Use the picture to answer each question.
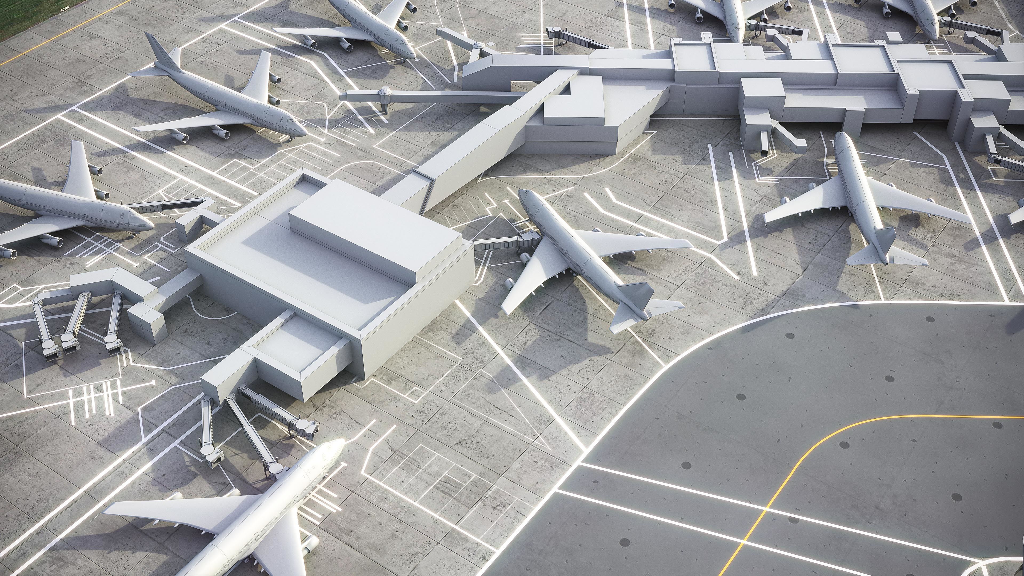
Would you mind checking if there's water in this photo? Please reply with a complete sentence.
No, water can't be seen anywhere here.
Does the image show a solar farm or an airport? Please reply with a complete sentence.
This image shows an airport.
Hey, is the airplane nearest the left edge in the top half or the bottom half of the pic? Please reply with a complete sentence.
It is in the top half that the airplane nearest the left edge appears.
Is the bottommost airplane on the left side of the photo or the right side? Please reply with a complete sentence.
It is on the left.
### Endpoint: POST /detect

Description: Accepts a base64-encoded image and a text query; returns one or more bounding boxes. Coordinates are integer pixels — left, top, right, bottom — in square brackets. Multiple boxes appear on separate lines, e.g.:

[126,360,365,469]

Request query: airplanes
[668,0,792,44]
[268,0,417,61]
[90,440,346,576]
[1008,198,1024,230]
[879,0,959,42]
[764,130,977,265]
[0,138,155,259]
[502,187,702,334]
[125,32,308,142]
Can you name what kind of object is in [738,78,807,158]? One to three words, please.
building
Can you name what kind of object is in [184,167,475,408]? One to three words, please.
building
